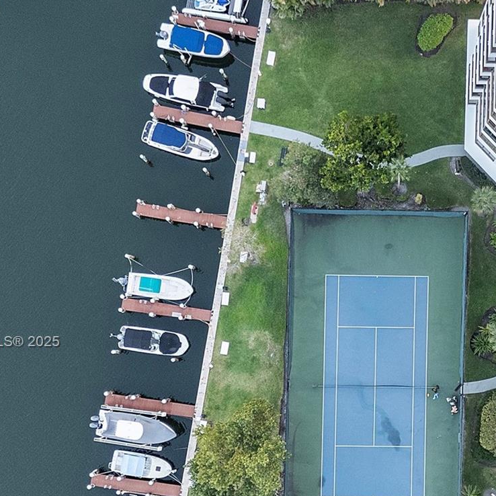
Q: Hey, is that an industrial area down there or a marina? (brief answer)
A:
marina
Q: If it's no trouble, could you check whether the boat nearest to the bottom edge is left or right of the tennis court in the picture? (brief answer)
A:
to the left of it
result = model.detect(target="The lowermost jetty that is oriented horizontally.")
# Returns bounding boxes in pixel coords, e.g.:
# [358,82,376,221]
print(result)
[90,474,182,496]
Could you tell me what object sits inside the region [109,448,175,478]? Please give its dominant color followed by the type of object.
white boat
